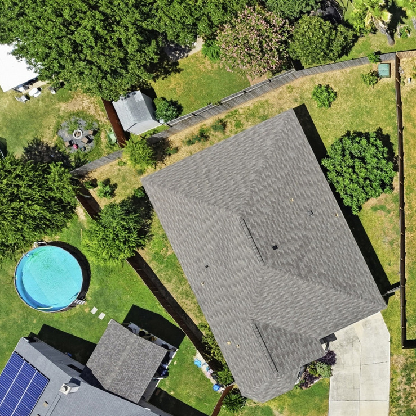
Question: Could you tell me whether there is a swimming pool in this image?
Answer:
Yes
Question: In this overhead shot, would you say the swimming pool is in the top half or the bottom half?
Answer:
bottom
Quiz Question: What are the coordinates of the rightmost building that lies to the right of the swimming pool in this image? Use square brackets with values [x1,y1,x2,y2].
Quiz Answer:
[139,110,385,404]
